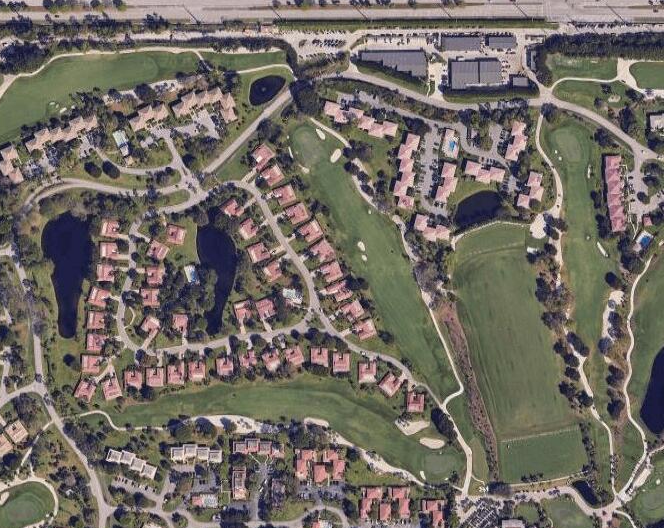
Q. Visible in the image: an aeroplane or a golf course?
golf course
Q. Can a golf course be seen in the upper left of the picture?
Yes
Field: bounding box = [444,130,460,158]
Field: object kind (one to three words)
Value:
swimming pool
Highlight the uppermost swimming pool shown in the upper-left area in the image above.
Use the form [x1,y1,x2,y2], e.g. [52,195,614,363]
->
[112,129,129,146]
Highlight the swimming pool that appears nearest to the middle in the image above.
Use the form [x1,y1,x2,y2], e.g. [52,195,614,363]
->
[282,290,302,305]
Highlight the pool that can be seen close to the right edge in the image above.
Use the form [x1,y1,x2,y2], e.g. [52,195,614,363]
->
[636,229,656,253]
